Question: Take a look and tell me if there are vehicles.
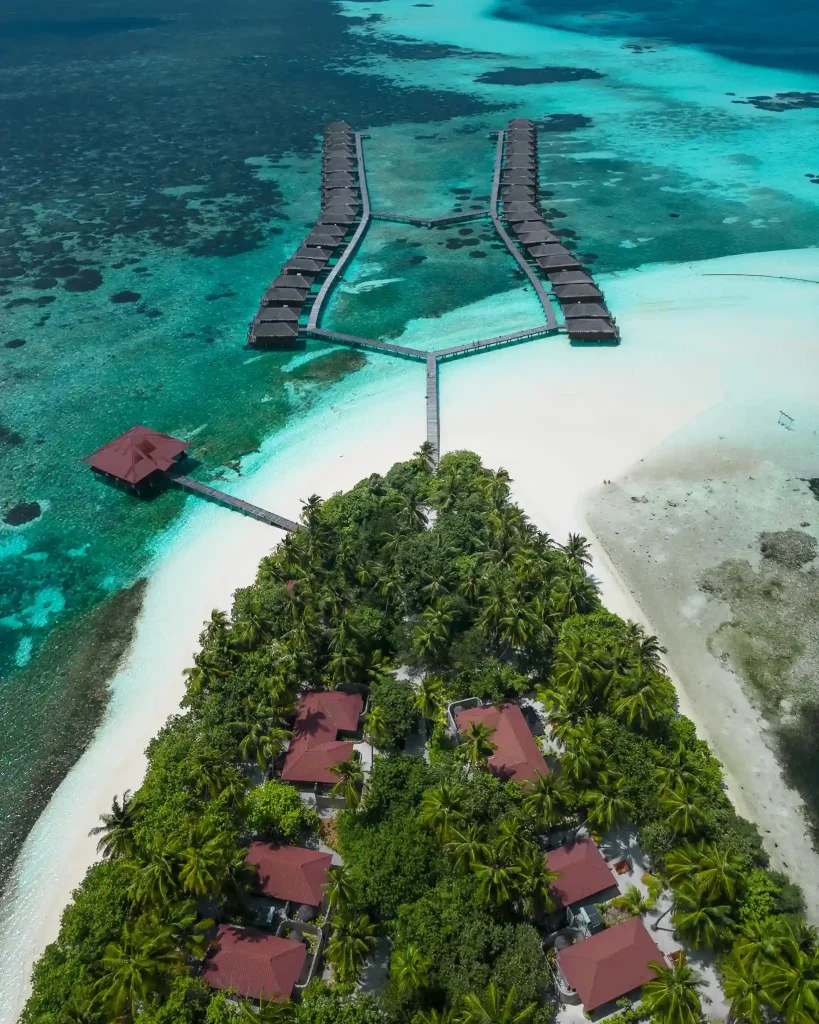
No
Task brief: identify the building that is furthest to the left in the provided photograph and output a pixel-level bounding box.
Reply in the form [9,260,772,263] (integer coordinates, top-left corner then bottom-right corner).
[79,429,192,498]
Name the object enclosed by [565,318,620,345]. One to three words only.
house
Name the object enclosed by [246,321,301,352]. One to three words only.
house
